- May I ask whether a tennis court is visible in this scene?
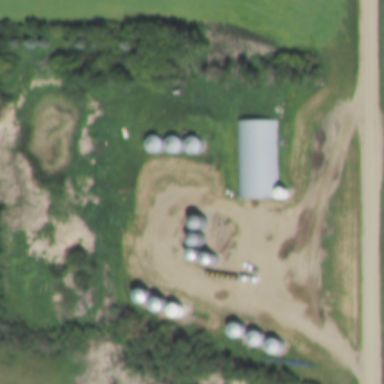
No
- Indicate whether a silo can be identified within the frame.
Yes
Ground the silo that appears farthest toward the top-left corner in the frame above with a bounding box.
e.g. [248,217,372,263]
[144,134,166,154]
